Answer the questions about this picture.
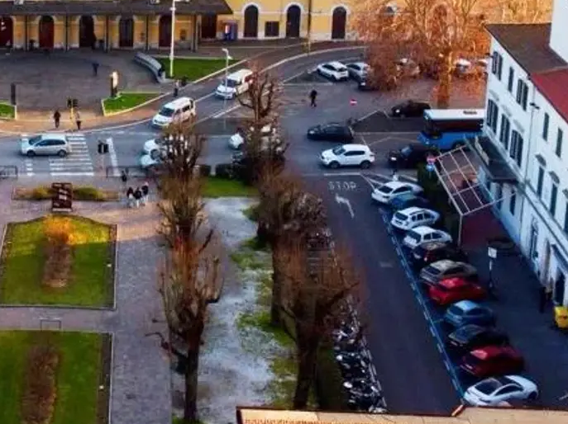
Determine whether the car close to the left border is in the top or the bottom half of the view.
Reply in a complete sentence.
The car close to the left border sits in the top half of the picture.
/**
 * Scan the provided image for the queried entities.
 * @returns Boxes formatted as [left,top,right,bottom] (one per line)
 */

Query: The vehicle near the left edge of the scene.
[19,128,73,153]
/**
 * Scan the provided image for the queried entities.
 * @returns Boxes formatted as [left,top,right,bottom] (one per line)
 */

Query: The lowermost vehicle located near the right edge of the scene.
[462,367,542,402]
